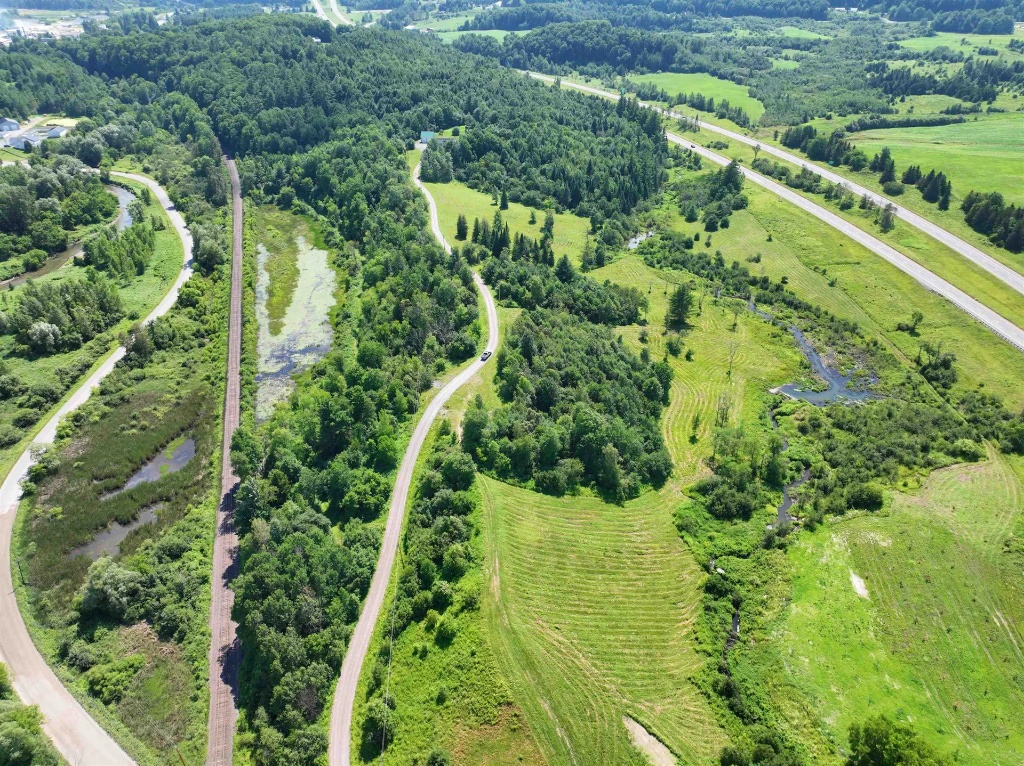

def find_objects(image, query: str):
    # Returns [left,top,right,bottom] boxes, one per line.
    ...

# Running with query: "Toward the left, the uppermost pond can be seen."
[253,236,344,427]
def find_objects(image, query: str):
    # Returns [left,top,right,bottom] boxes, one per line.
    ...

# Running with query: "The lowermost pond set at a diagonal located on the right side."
[744,298,881,407]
